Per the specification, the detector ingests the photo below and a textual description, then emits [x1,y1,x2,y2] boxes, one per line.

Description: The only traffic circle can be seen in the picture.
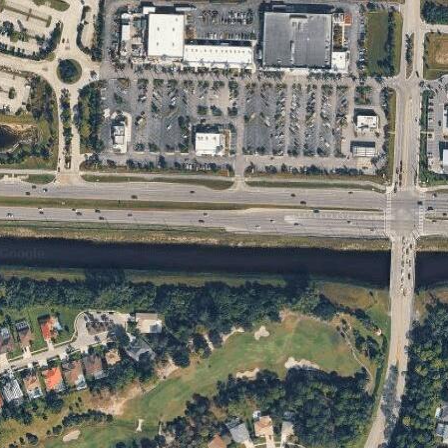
[47,50,90,93]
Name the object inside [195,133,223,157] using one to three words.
building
